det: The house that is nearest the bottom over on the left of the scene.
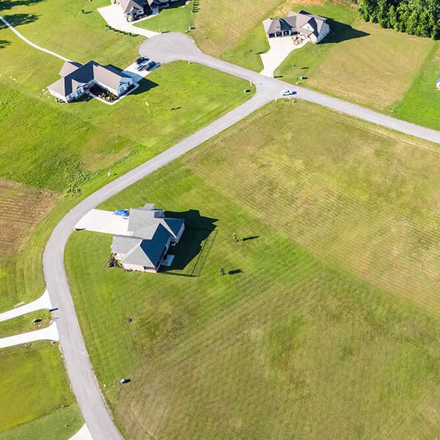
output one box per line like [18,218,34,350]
[108,204,188,276]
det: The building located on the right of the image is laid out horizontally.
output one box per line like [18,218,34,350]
[260,10,331,46]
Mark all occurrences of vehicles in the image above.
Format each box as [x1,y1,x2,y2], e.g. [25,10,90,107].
[279,88,294,95]
[111,209,129,217]
[134,63,145,71]
[135,55,147,63]
[145,60,156,70]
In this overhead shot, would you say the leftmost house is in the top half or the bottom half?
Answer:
top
